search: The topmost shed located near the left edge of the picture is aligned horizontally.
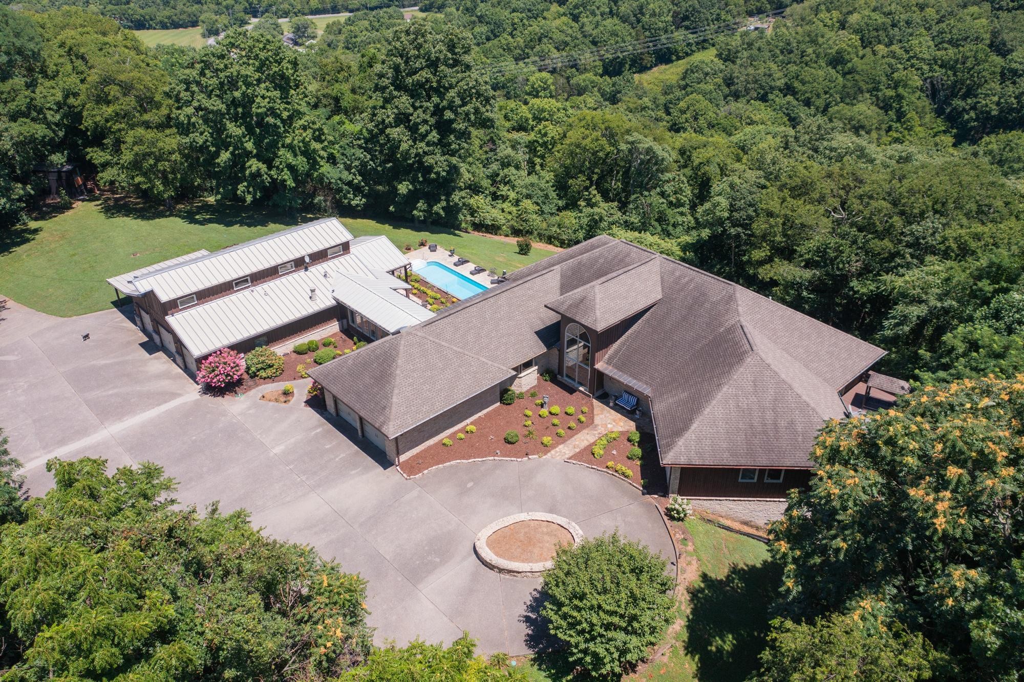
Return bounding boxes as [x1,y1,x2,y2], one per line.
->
[14,161,91,203]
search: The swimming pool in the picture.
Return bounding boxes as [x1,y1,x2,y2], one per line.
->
[408,251,492,299]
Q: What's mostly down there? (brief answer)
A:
trees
